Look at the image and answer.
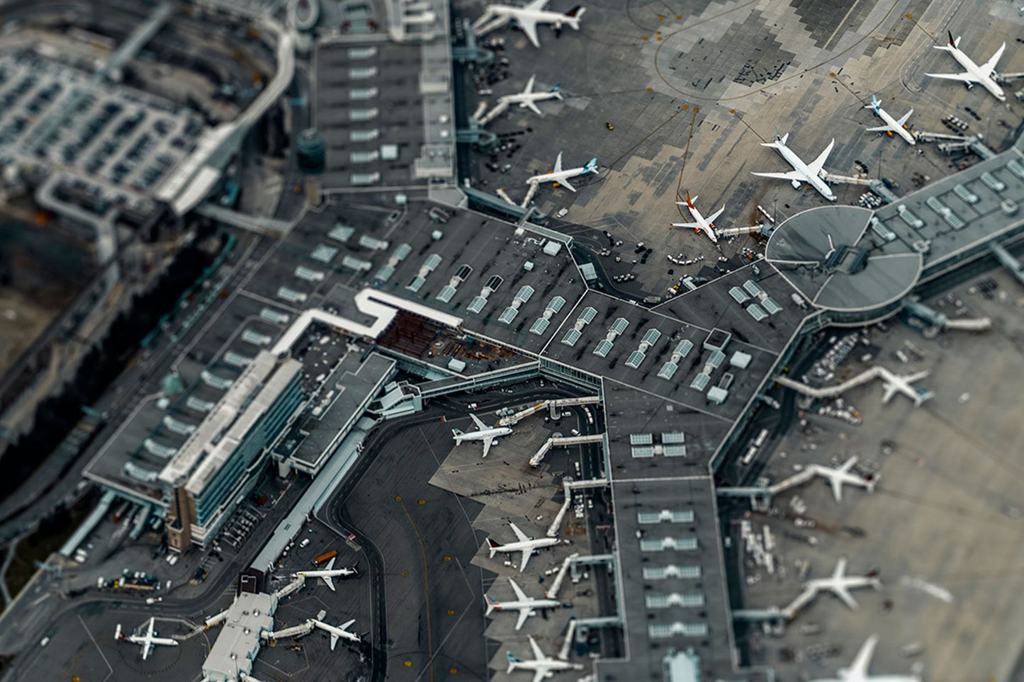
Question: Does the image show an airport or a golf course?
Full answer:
This looks like an airport.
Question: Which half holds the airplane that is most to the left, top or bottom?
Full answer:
The airplane that is most to the left sits in the bottom half of the picture.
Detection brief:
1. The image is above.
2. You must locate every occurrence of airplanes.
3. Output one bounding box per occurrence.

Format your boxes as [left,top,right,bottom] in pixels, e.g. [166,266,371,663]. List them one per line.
[492,0,581,44]
[750,129,834,201]
[528,152,596,191]
[455,414,511,456]
[924,32,1007,102]
[490,521,558,569]
[293,557,355,590]
[672,194,724,243]
[121,619,177,658]
[879,366,932,407]
[865,97,916,145]
[501,75,559,113]
[505,636,577,682]
[307,619,365,649]
[806,557,880,608]
[816,455,878,500]
[790,635,912,682]
[488,578,558,628]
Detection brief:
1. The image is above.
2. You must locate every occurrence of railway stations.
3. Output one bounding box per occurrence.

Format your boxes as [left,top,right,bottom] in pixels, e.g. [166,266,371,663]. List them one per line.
[155,127,225,225]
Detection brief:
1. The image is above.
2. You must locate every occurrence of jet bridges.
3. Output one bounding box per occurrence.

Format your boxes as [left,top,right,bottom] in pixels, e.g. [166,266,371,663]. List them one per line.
[531,435,605,469]
[470,100,488,124]
[560,617,622,662]
[495,397,601,428]
[471,99,506,132]
[906,300,996,334]
[987,93,1024,107]
[470,7,494,38]
[730,585,819,624]
[201,610,230,633]
[820,172,894,202]
[544,554,617,601]
[718,225,769,243]
[933,139,973,156]
[464,13,514,50]
[519,180,539,224]
[992,243,1024,278]
[268,621,314,642]
[772,363,881,401]
[548,480,608,539]
[715,463,817,499]
[917,131,990,154]
[272,572,306,603]
[495,188,515,207]
[990,72,1024,86]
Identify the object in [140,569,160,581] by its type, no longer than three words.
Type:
vehicle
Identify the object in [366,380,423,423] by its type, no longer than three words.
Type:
building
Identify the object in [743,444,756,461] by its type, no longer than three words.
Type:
vehicle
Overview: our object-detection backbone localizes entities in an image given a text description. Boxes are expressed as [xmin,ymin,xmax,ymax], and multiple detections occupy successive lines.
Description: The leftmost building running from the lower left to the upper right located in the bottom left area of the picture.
[60,495,117,564]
